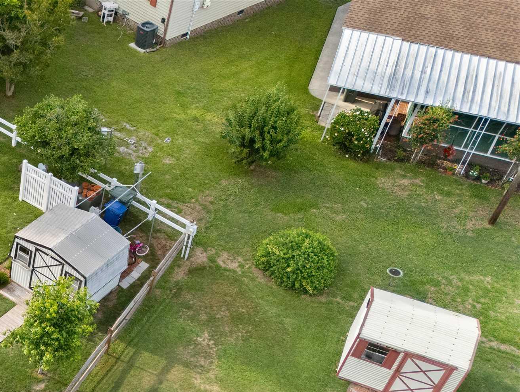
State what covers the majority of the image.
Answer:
grass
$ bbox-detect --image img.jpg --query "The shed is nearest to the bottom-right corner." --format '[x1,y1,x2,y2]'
[336,281,488,392]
